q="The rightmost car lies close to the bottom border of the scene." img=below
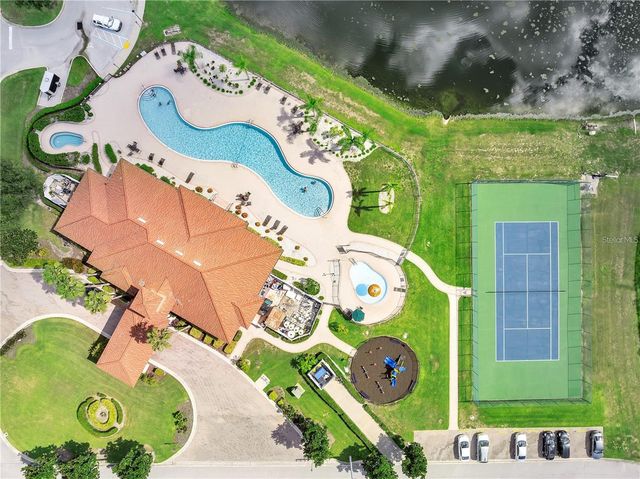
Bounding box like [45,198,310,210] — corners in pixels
[589,430,605,458]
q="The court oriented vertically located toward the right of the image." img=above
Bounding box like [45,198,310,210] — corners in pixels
[472,181,580,401]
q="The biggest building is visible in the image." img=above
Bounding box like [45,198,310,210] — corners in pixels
[52,158,282,387]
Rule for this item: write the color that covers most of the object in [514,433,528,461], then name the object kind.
white car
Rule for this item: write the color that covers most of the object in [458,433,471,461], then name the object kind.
white vehicle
